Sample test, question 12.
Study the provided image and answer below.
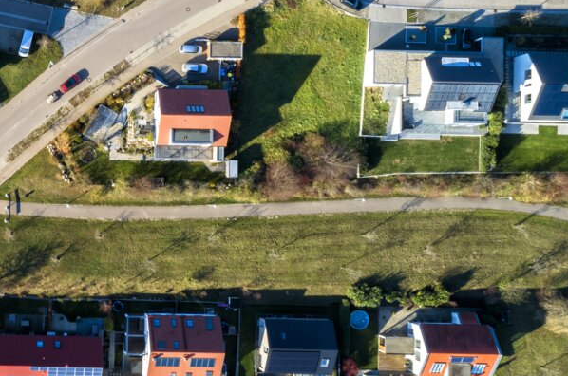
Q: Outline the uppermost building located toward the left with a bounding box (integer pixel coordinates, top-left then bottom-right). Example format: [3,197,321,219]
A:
[205,41,243,62]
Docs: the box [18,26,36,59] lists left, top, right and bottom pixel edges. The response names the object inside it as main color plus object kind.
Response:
blue vehicle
